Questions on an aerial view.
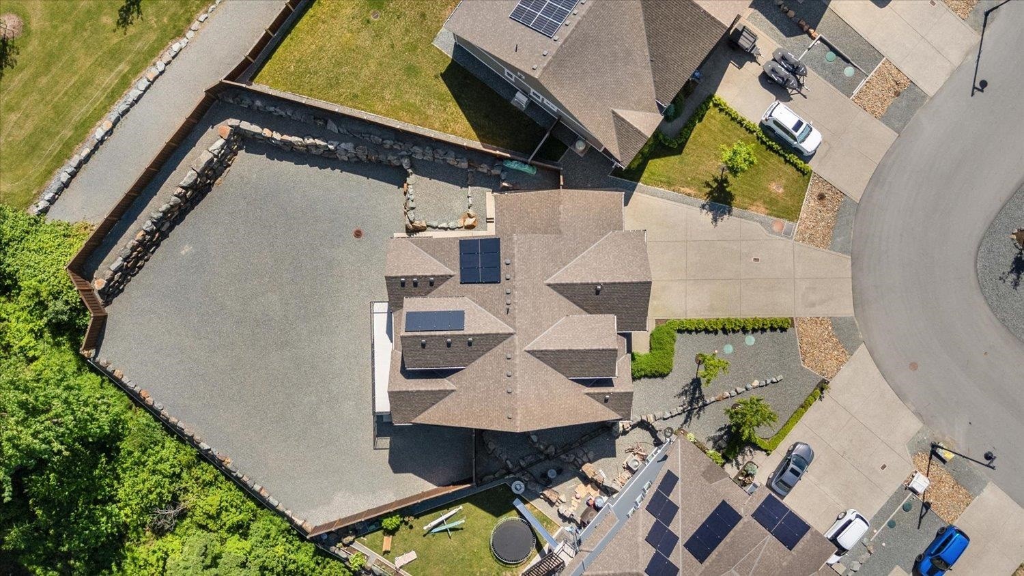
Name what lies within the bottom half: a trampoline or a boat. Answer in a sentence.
Looking within the bottom half, you will find a trampoline.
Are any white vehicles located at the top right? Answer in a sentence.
Yes, I can see a white vehicle at the top right.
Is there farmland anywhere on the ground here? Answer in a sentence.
No, there is no farmland in the image.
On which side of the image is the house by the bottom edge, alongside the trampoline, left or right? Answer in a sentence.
The house by the bottom edge, alongside the trampoline is on the right side of the image.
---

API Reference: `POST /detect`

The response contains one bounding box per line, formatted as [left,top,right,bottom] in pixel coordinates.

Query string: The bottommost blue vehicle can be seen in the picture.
[915,532,965,576]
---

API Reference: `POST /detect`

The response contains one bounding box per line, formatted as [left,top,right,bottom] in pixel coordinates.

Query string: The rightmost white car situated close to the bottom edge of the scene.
[826,508,871,564]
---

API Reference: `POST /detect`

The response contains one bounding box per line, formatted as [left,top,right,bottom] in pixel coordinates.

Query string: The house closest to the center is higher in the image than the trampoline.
[370,188,652,452]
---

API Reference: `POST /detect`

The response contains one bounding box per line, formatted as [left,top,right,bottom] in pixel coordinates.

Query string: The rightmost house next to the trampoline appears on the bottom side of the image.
[535,434,834,576]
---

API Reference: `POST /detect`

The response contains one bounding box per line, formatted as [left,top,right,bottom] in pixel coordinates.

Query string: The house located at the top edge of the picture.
[439,0,750,171]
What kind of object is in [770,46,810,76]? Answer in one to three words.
boat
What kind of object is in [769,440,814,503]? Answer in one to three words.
car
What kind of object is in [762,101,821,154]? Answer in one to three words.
car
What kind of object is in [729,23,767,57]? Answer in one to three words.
trailer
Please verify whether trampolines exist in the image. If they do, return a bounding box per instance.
[491,517,536,564]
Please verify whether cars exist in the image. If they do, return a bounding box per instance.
[762,101,821,154]
[915,532,965,576]
[769,440,814,503]
[826,508,871,564]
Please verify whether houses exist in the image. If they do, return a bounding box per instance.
[535,434,834,576]
[439,0,750,171]
[370,188,652,452]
